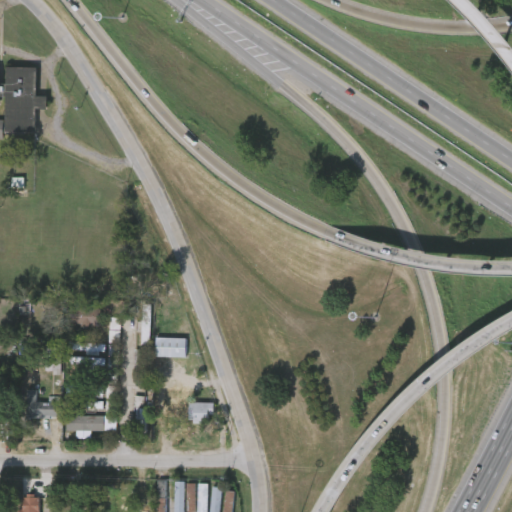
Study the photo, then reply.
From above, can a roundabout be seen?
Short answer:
No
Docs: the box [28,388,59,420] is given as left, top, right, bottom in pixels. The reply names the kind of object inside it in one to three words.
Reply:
house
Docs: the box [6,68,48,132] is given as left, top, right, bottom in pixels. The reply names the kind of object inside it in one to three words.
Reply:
building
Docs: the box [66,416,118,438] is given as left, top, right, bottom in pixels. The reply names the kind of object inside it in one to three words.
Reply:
house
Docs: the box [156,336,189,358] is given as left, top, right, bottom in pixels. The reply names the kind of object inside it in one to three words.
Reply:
barn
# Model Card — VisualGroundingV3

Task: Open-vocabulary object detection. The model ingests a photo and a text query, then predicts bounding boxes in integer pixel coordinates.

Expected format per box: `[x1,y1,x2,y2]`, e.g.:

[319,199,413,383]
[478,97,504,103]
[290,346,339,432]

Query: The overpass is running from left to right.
[328,228,512,276]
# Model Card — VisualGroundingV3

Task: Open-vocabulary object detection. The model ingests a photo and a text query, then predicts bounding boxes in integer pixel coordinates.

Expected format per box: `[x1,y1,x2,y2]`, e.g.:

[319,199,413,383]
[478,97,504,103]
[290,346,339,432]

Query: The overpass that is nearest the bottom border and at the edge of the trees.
[312,311,512,512]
